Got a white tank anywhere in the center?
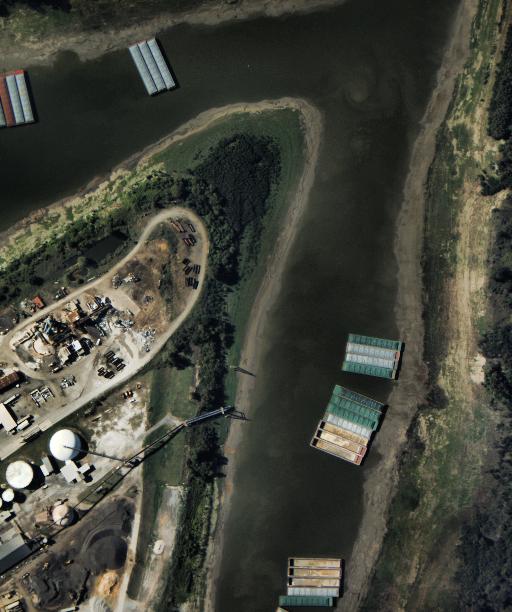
No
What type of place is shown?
port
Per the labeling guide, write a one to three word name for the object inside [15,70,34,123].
ship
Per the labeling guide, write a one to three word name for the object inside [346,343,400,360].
ship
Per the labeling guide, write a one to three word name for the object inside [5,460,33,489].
storage tank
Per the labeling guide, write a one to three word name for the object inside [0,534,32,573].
shed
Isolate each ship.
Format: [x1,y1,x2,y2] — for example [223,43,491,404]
[324,404,376,432]
[346,343,400,360]
[287,568,340,577]
[320,413,373,441]
[129,43,157,95]
[312,431,364,459]
[0,73,16,126]
[329,394,381,423]
[316,422,368,449]
[0,96,7,127]
[147,37,175,89]
[6,72,24,124]
[287,577,339,586]
[287,587,339,596]
[15,70,34,123]
[138,40,165,91]
[345,353,398,370]
[308,440,360,468]
[333,385,385,414]
[342,362,396,380]
[288,559,341,568]
[280,596,333,605]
